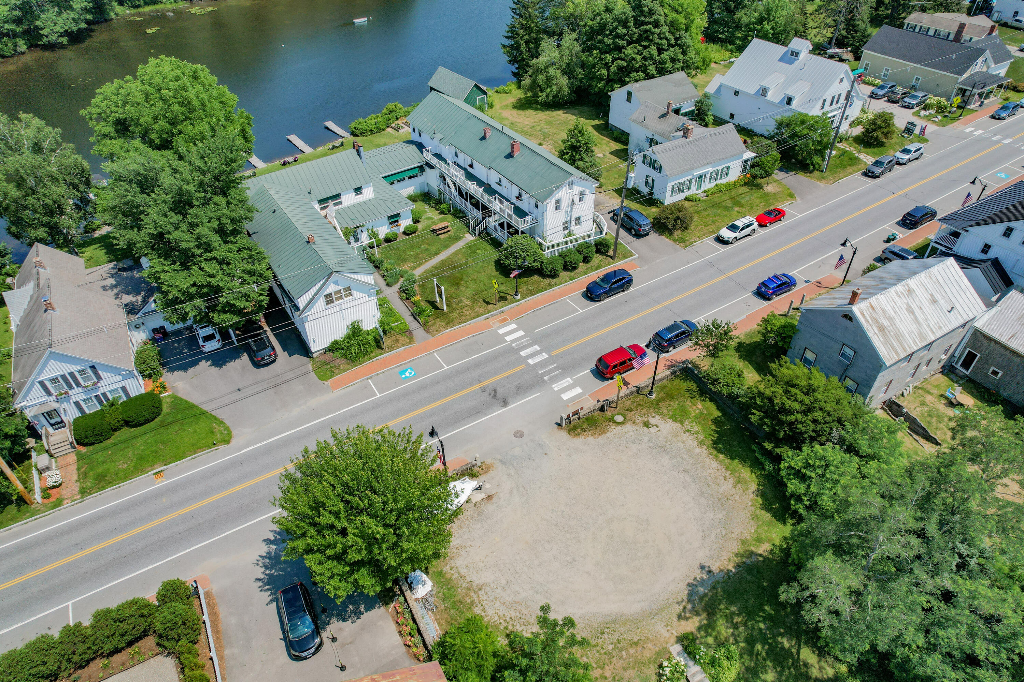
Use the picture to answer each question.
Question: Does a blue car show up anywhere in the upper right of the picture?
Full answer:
Yes, I can see a blue car in the upper right of the picture.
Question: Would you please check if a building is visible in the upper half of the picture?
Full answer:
Yes, a building appears in the upper half of the picture.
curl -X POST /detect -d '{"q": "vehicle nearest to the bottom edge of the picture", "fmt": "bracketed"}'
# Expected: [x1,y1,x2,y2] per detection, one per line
[276,581,326,668]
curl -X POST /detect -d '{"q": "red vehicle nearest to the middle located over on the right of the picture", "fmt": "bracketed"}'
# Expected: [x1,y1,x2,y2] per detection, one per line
[592,344,647,380]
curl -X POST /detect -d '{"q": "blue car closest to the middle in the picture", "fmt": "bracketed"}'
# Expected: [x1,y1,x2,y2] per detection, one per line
[585,269,635,302]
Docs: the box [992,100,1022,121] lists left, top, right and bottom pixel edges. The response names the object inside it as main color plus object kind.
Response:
blue car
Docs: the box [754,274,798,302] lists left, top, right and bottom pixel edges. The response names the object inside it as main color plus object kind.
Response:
blue car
